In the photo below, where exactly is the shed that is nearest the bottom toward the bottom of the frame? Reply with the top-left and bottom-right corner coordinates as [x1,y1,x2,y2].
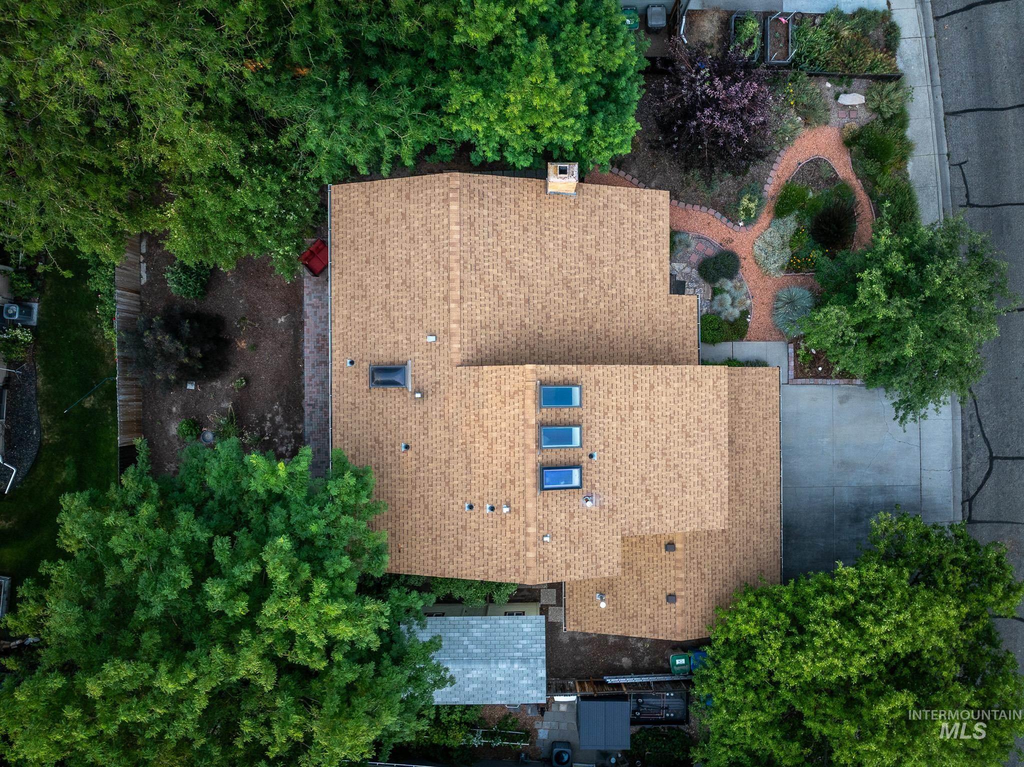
[577,694,630,750]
